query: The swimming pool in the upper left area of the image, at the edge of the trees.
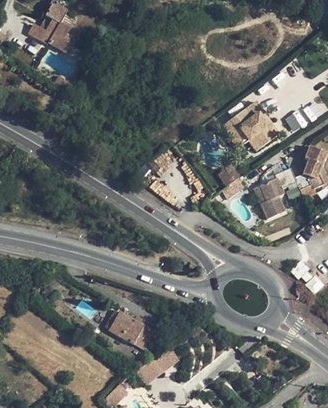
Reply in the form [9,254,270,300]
[38,50,74,76]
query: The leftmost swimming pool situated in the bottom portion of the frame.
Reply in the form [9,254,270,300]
[74,300,105,324]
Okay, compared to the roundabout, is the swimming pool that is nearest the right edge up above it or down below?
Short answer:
above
